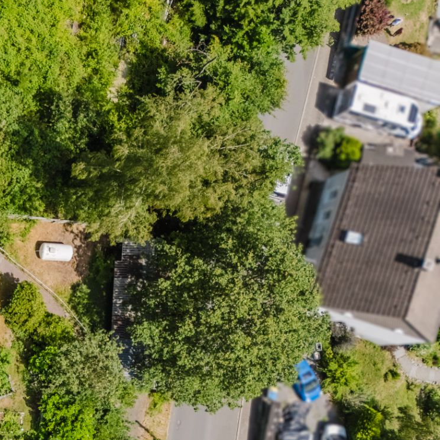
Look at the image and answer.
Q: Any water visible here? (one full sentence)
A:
No, water can't be seen anywhere here.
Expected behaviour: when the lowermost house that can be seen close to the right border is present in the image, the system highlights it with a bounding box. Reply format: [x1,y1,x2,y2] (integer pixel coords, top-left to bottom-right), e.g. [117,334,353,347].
[296,164,440,340]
